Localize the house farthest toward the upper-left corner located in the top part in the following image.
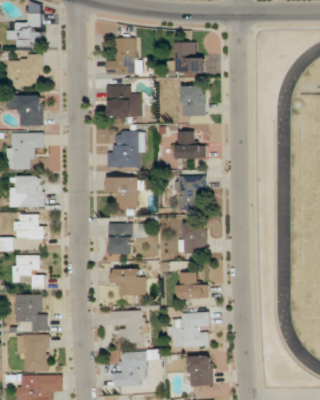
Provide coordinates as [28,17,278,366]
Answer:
[6,0,41,48]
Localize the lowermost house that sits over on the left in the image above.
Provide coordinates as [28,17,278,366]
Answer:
[5,374,62,400]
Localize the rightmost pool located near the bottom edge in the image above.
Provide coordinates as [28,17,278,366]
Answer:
[172,374,184,396]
